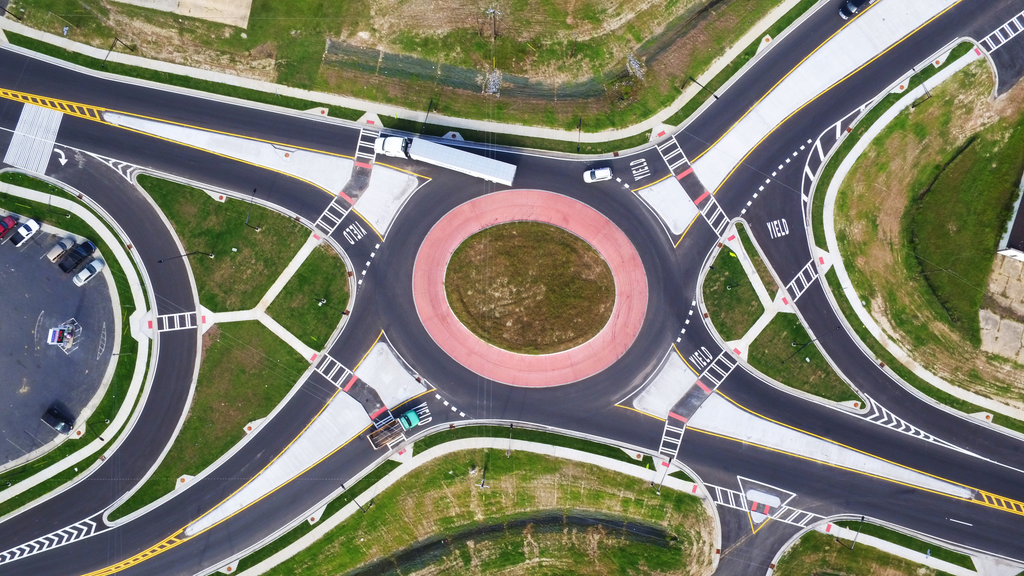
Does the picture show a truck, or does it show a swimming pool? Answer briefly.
truck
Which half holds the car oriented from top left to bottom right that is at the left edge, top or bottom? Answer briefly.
bottom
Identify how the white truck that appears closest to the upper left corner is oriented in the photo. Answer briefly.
at an angle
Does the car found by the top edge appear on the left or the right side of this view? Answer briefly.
right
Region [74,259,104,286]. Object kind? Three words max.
car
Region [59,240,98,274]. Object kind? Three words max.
truck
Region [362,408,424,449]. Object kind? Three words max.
truck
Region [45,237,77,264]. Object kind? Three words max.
car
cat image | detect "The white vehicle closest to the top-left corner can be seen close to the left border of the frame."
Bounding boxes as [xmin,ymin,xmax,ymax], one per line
[9,216,44,248]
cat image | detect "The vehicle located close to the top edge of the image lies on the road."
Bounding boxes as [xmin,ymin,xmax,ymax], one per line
[838,0,869,20]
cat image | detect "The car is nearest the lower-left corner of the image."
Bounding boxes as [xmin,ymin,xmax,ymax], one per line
[40,407,73,433]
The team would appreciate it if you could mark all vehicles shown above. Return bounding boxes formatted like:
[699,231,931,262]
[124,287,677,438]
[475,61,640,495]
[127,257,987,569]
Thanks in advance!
[74,259,104,286]
[362,408,424,449]
[838,0,869,20]
[582,168,613,184]
[0,216,19,243]
[45,237,77,264]
[59,240,98,274]
[380,128,516,185]
[9,216,44,248]
[40,407,73,433]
